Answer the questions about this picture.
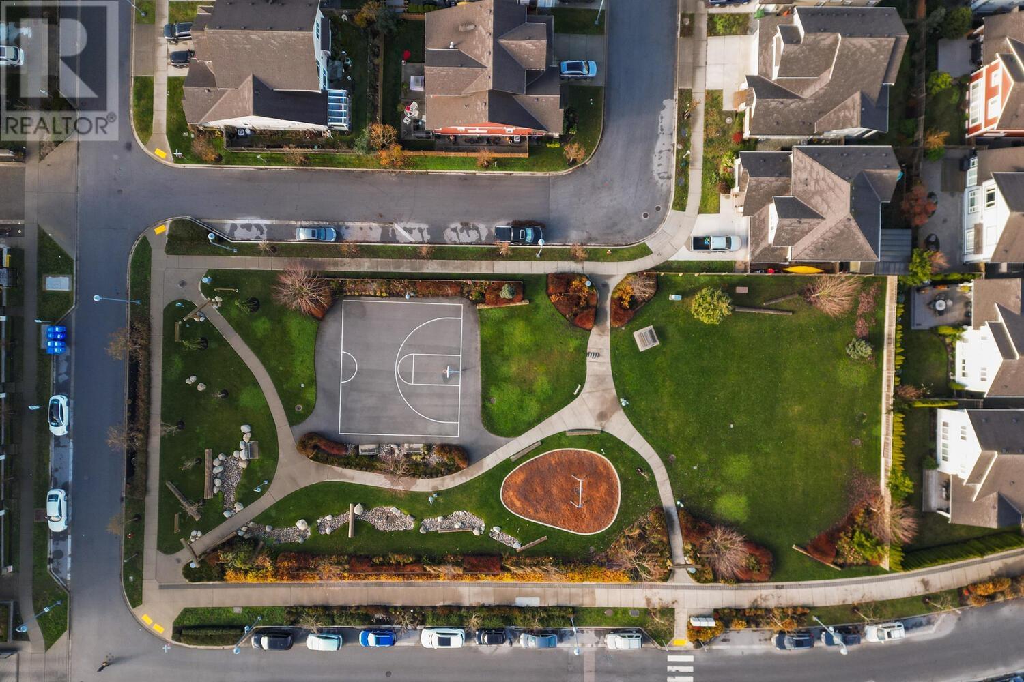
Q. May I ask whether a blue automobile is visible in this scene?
Yes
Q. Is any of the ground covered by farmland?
No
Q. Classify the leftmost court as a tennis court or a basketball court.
basketball court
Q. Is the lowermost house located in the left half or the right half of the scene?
right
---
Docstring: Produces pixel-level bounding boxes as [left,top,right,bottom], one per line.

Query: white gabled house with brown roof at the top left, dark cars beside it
[179,0,333,128]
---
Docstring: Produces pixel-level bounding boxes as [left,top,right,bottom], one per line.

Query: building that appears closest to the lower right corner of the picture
[936,408,1024,533]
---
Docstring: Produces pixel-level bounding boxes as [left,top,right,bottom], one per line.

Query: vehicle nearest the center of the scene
[494,222,543,244]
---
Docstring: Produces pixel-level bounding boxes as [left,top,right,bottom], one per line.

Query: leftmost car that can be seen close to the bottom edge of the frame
[249,632,291,655]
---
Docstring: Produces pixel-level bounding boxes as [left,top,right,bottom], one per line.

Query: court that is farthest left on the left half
[291,297,516,470]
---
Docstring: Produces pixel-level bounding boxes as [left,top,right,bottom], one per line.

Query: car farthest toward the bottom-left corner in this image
[41,490,66,533]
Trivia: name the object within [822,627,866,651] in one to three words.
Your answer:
vehicle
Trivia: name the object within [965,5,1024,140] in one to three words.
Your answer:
house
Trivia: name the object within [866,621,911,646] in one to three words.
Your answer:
car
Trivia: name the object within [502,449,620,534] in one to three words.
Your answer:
playground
